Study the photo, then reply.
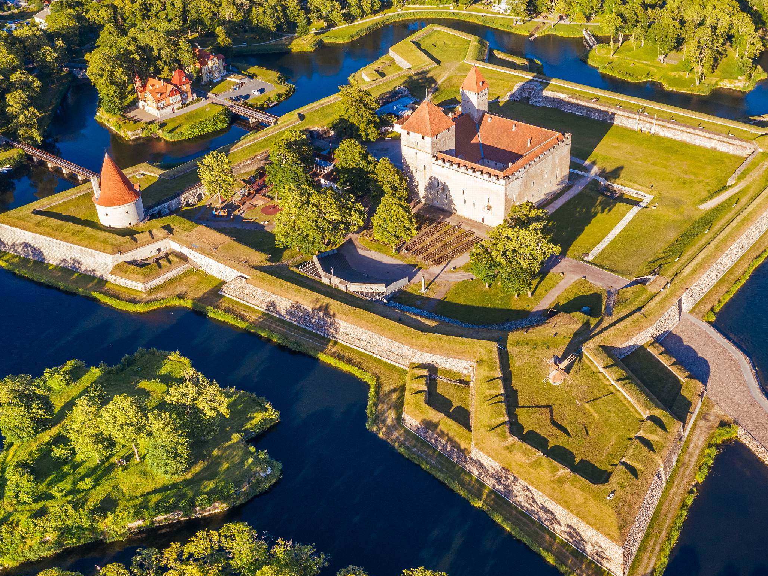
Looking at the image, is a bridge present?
Yes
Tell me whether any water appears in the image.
Yes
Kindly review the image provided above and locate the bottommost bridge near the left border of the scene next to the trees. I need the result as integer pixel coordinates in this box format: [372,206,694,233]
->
[1,137,100,184]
